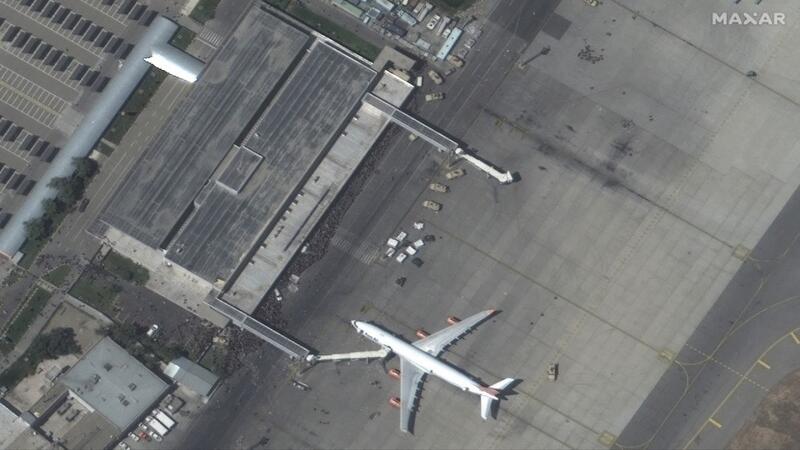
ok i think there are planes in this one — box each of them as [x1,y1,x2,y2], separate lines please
[352,308,513,437]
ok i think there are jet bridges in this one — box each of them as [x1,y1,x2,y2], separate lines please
[447,147,515,185]
[301,345,395,376]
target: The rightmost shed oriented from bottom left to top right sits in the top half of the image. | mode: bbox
[436,27,463,62]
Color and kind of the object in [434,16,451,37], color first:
gray vehicle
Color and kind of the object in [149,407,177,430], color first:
white truck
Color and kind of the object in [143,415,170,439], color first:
white truck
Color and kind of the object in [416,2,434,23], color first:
gray vehicle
